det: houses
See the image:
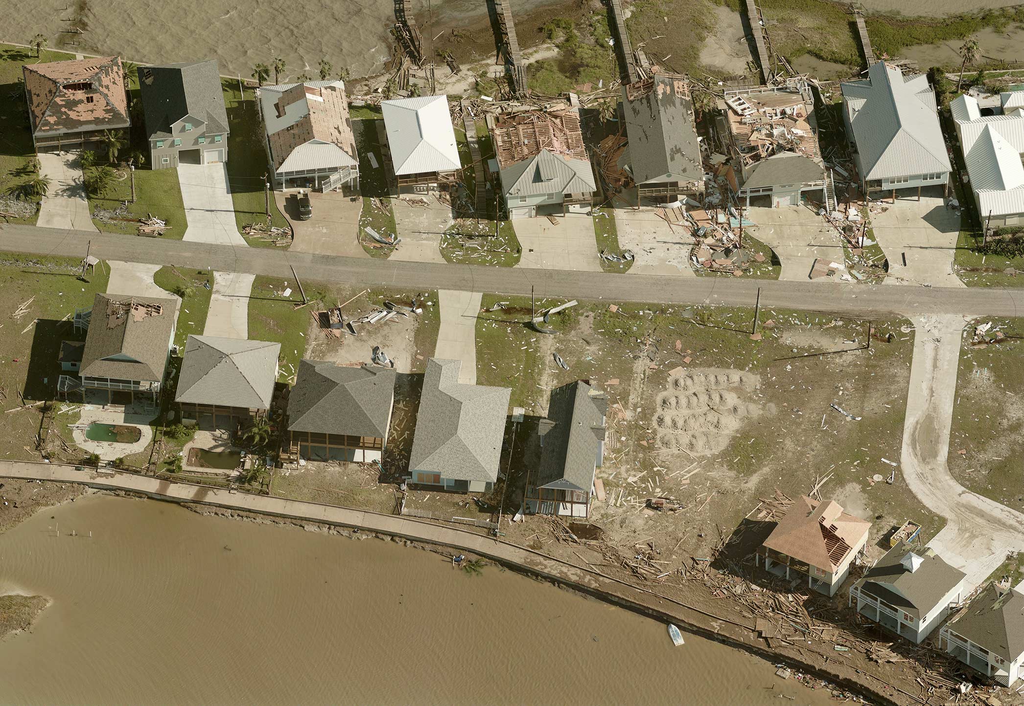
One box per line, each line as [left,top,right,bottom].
[381,95,462,199]
[260,80,358,196]
[58,293,178,411]
[764,495,871,596]
[725,82,839,211]
[525,375,609,520]
[946,581,1024,685]
[488,106,595,222]
[840,62,953,204]
[621,80,704,209]
[174,335,282,443]
[277,357,397,468]
[138,59,229,168]
[405,358,512,497]
[854,540,965,643]
[950,90,1024,228]
[22,55,132,157]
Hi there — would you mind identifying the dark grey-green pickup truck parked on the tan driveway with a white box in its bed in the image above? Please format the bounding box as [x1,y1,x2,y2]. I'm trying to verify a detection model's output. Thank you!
[297,186,313,217]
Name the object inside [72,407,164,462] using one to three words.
swimming pool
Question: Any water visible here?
Yes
